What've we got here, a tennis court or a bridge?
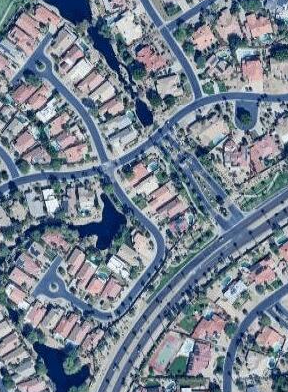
tennis court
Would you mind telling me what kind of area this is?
residential area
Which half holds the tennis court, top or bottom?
bottom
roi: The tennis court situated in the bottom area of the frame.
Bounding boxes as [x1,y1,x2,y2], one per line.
[151,331,183,373]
